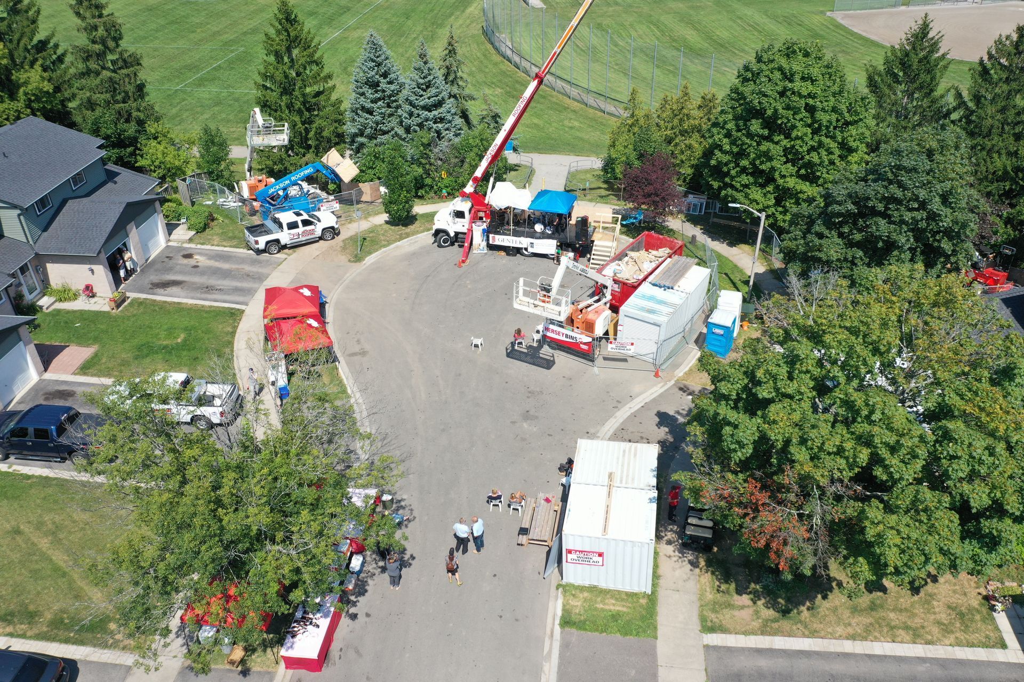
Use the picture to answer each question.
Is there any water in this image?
No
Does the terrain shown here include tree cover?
Yes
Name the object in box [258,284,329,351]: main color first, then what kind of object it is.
red tent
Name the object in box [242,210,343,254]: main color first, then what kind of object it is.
white truck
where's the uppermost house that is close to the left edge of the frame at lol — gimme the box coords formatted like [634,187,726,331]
[0,114,178,318]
